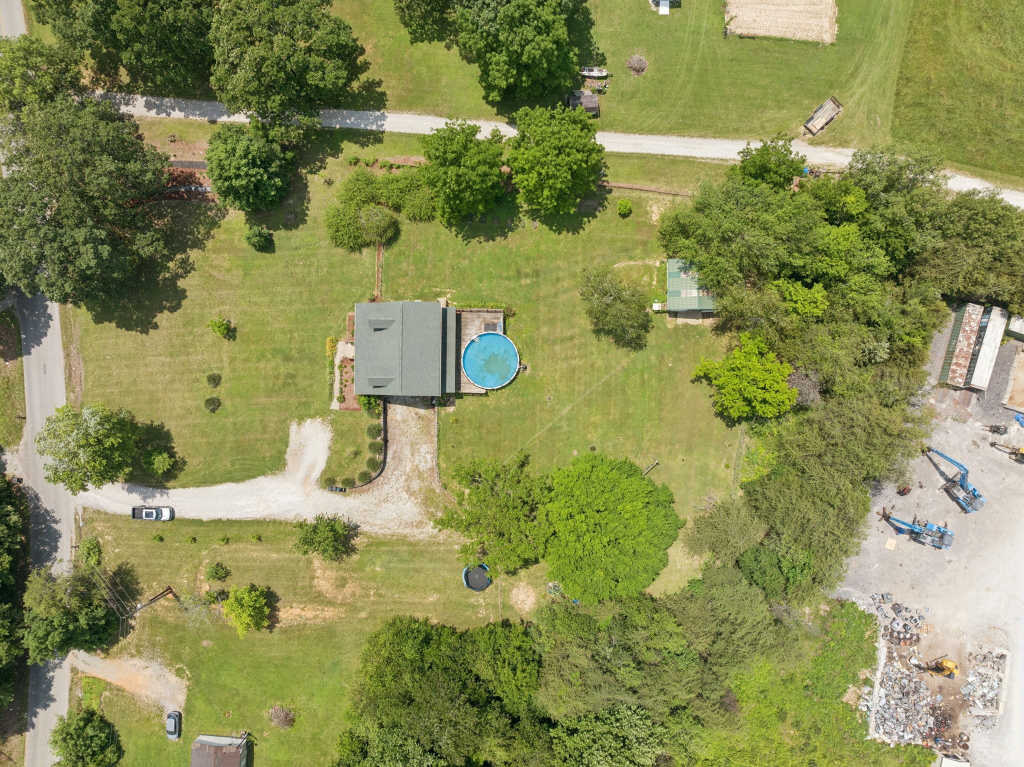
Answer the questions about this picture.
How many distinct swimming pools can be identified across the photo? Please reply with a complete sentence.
The picture shows 1 swimming pool.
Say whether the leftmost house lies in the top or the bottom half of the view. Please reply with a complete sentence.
The bottom half of the photo is where the leftmost house is.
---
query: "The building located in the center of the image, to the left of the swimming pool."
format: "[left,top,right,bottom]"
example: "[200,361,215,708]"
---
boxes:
[352,300,456,396]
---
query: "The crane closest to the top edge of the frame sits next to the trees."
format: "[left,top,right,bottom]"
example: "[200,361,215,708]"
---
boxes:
[920,435,988,518]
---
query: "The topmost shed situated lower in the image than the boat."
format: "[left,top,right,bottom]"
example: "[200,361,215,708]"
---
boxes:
[569,92,599,118]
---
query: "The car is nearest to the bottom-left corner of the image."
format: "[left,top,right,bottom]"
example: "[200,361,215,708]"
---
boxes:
[164,709,182,740]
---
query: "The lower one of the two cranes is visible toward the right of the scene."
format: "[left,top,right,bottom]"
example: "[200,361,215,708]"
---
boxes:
[872,510,963,554]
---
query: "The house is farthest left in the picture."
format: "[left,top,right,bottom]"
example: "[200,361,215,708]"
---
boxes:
[191,734,249,767]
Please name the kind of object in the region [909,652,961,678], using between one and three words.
work vehicle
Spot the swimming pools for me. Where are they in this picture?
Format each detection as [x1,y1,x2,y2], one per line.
[461,331,521,390]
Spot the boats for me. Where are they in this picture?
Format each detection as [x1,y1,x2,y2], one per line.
[578,65,611,81]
